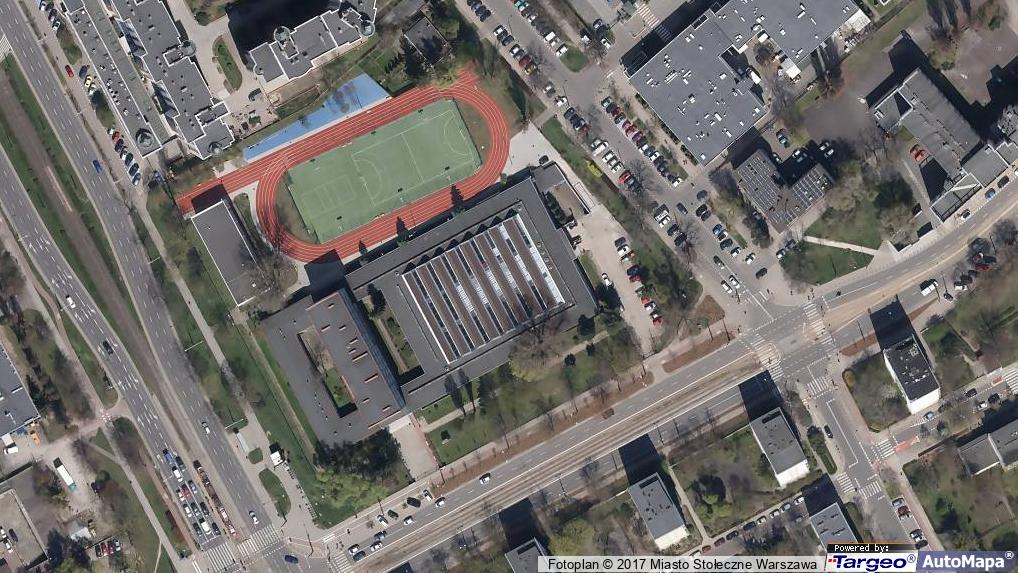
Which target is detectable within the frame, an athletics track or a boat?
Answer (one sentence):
Visible in the photo is an athletics track.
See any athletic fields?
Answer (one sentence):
Yes, you can see an athletic field in this photo.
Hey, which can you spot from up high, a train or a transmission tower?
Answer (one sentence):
There is a train in the scene.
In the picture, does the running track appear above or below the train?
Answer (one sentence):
The running track is above the train.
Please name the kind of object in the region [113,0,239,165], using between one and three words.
building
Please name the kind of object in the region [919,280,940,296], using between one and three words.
vehicle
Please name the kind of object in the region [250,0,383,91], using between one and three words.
house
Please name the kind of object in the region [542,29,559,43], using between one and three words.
vehicle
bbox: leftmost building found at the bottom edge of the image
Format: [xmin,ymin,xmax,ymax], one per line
[0,466,64,554]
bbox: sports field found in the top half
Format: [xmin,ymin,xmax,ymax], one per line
[288,98,481,243]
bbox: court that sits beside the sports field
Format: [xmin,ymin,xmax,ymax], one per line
[244,74,390,161]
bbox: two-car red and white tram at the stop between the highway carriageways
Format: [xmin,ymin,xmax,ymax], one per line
[195,461,242,541]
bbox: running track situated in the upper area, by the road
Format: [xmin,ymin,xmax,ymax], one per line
[177,69,510,265]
